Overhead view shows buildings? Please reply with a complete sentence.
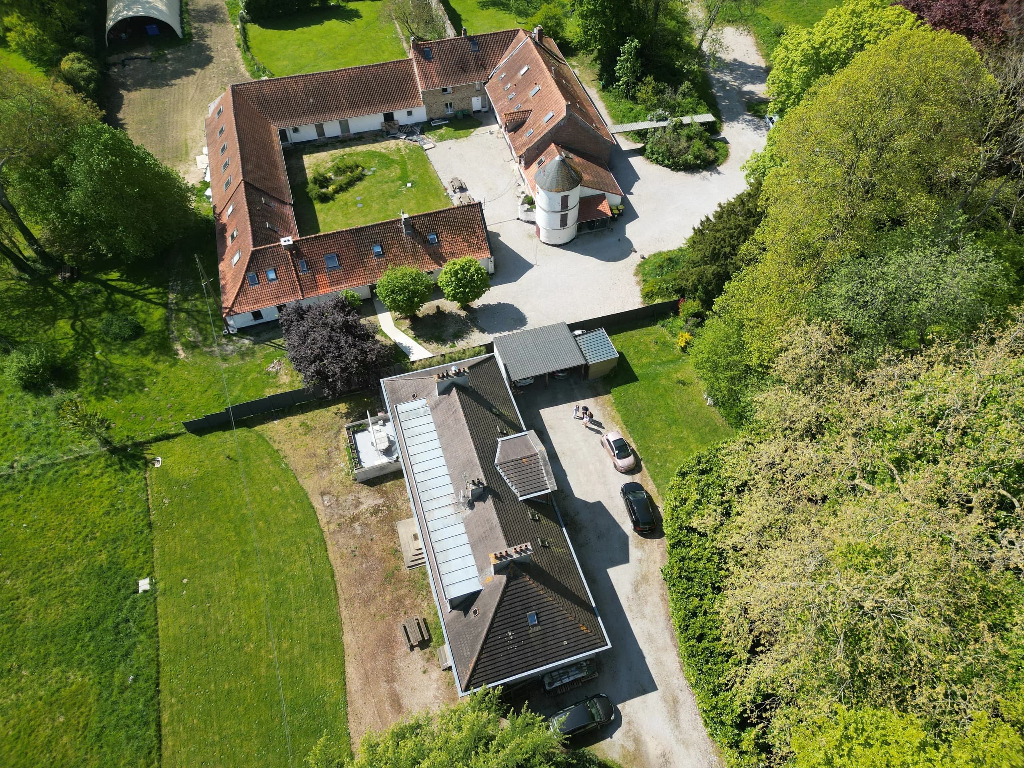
Yes, this view includes a building.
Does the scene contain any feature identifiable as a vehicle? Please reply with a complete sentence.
Yes, the image includes a vehicle.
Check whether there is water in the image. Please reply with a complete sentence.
No, there is no water in the image.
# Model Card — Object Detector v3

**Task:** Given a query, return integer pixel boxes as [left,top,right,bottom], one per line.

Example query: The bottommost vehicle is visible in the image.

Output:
[549,694,617,742]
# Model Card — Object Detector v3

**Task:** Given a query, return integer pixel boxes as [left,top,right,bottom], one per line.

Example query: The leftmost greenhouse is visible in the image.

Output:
[103,0,182,46]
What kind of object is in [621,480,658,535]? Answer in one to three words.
car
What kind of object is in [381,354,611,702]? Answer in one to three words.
house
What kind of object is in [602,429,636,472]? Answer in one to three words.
car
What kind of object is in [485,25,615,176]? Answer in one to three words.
barn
